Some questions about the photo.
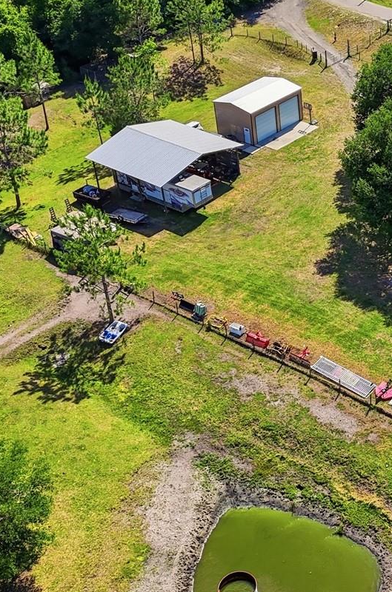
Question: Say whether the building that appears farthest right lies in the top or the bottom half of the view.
top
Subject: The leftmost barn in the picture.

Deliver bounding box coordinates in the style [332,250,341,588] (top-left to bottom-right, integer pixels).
[86,120,243,221]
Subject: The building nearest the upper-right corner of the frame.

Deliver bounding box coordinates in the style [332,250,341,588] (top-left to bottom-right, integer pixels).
[212,77,301,145]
